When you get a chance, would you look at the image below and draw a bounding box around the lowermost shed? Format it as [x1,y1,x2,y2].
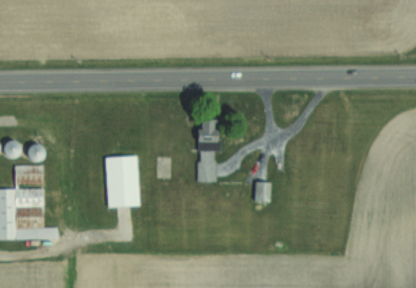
[16,228,58,240]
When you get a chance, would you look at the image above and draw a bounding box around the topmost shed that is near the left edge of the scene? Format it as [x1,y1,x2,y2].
[15,164,44,184]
